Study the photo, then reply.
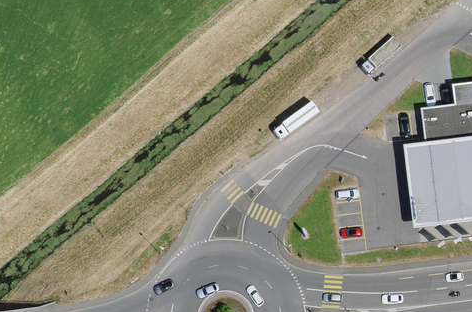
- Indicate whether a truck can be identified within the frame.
Yes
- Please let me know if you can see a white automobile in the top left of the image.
No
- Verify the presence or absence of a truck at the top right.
Yes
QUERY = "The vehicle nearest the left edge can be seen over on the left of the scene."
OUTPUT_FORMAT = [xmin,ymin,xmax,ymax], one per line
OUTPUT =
[153,278,175,294]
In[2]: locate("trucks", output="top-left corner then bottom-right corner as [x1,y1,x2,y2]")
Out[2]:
[361,37,401,76]
[272,100,320,143]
